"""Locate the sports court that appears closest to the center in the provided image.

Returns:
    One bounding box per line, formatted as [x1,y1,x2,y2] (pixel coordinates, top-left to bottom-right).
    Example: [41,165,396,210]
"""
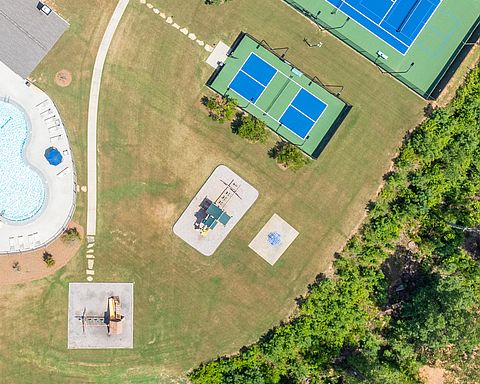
[209,37,351,156]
